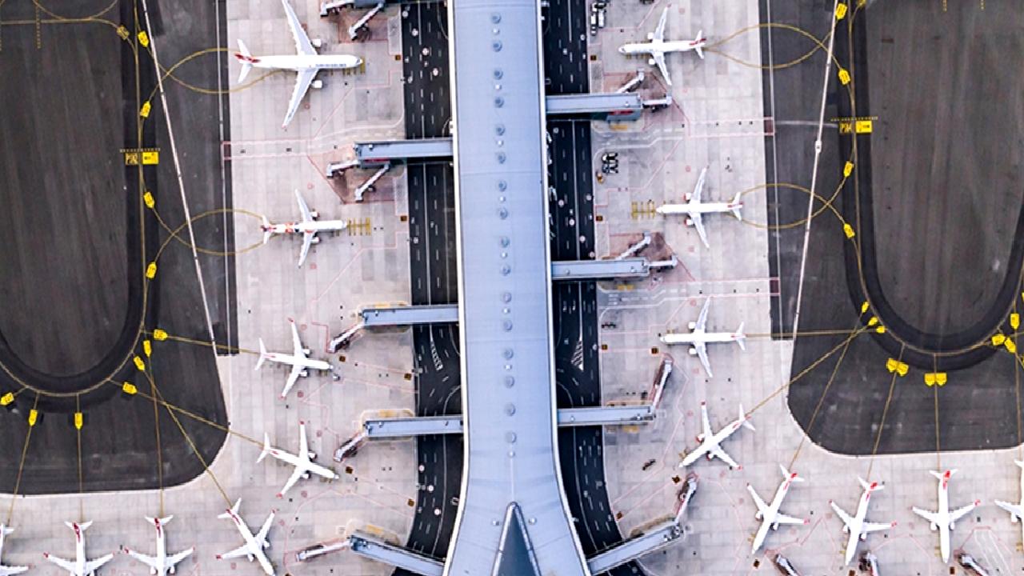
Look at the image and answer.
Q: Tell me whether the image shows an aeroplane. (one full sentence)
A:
Yes, there's an aeroplane down there.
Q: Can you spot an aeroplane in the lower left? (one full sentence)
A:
Yes, looking in the lower left, one can make out an aeroplane.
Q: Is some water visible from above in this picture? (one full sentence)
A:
No, water can't be seen anywhere here.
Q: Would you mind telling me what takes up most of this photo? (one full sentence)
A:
For the most part, this view shows paved ground.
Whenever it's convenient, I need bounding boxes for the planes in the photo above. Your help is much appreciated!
[831,475,898,565]
[619,4,708,86]
[747,465,812,554]
[256,320,333,399]
[680,405,758,466]
[123,516,194,576]
[660,296,749,379]
[234,0,363,129]
[260,187,346,267]
[0,527,32,576]
[259,423,339,494]
[912,470,979,563]
[656,164,746,248]
[43,520,113,576]
[213,498,275,575]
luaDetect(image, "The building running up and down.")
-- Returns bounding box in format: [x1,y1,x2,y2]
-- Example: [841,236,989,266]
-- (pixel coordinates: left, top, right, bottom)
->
[441,0,592,576]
